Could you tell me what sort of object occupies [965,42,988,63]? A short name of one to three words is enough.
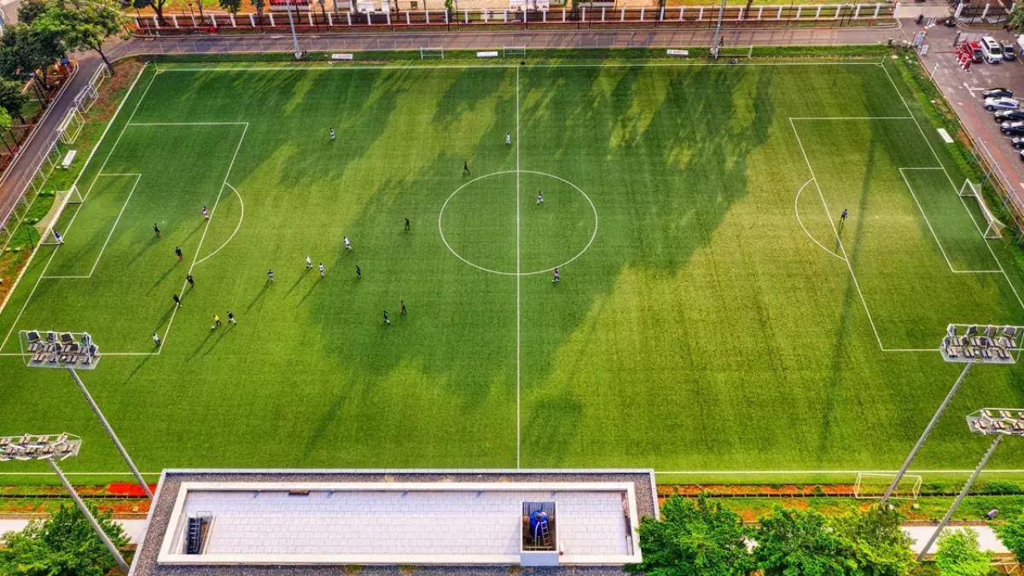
car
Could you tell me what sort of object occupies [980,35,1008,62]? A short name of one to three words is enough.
vehicle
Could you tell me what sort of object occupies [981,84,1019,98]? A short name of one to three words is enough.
car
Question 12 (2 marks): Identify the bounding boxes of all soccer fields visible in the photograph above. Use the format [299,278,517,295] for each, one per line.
[0,57,1024,486]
